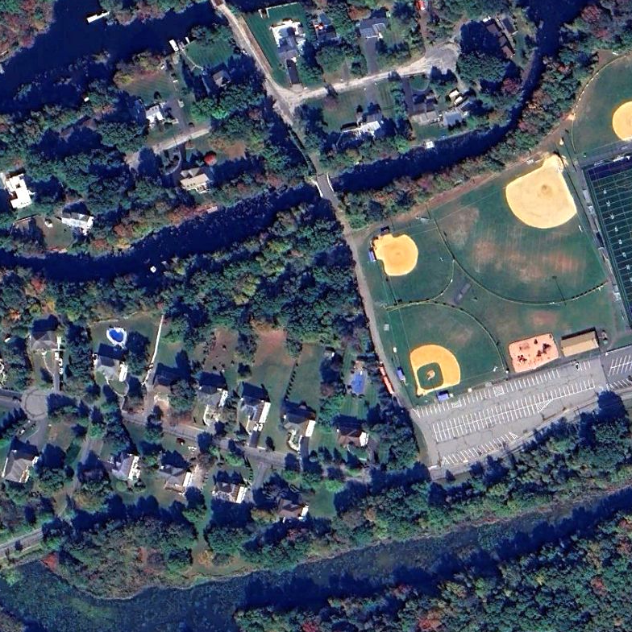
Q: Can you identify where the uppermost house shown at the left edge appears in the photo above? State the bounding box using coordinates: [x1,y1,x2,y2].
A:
[4,171,37,207]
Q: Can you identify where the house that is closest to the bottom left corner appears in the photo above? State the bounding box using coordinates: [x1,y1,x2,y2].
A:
[2,448,40,482]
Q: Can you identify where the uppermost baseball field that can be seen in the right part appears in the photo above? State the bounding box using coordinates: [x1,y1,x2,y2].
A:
[569,54,632,159]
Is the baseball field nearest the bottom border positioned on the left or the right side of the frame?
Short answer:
right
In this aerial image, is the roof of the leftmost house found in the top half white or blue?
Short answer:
white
